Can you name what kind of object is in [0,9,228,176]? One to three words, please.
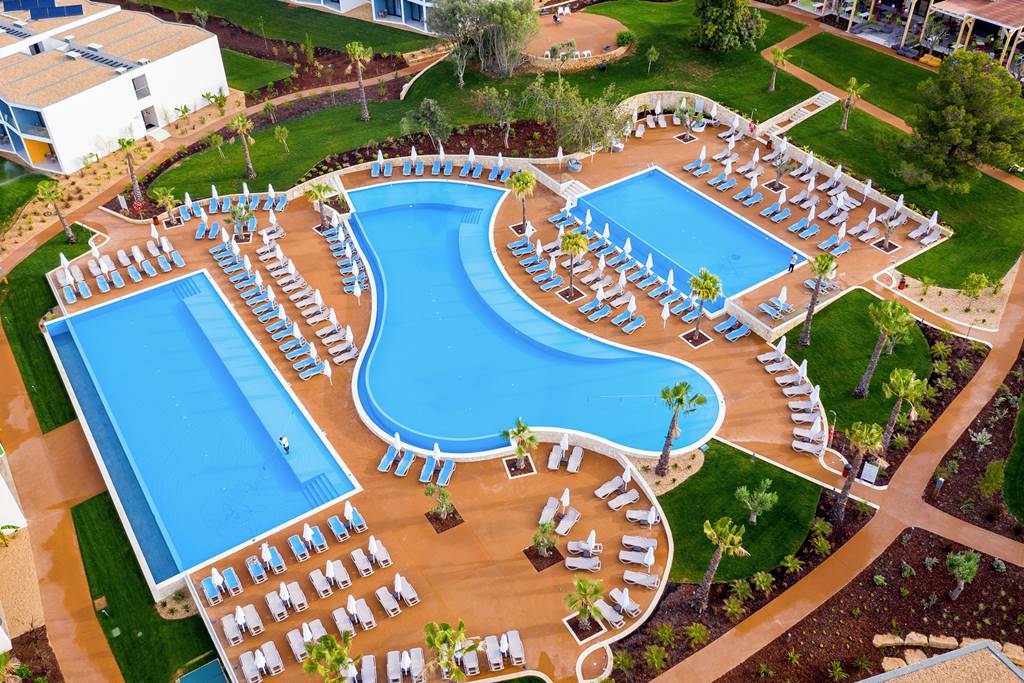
building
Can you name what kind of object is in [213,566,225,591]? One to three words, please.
umbrella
